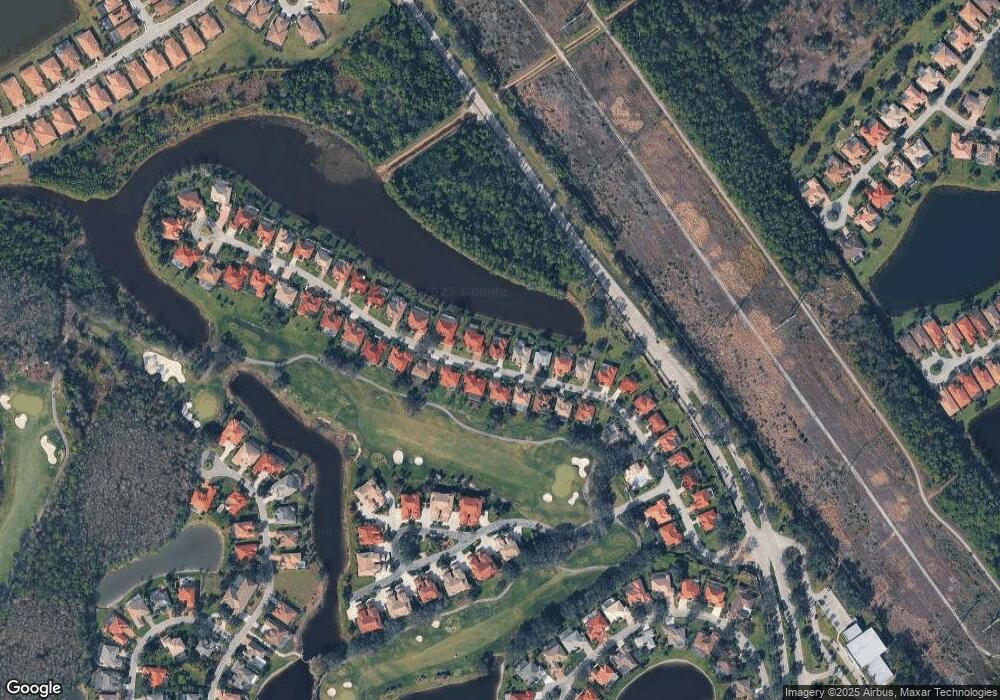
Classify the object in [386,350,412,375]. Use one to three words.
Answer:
house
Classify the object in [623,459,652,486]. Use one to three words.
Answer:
building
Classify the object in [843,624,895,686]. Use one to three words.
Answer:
building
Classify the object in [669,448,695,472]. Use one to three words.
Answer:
house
